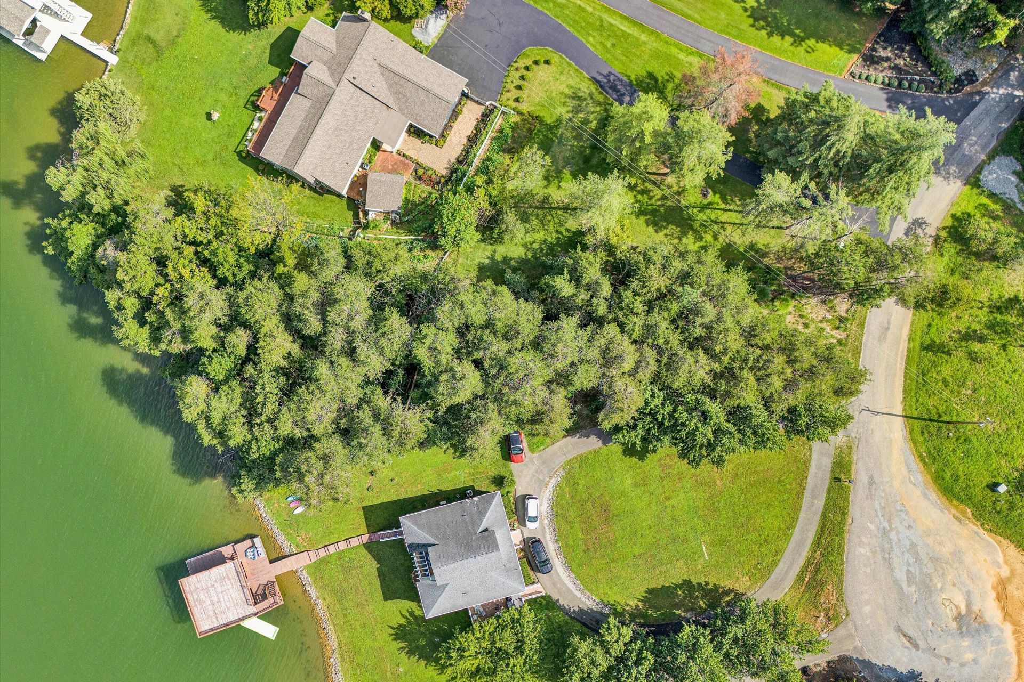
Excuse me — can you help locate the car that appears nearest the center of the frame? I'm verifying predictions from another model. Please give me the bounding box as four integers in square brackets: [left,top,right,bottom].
[508,431,525,463]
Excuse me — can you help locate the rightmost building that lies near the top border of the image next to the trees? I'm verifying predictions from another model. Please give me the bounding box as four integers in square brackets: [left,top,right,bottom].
[259,11,468,196]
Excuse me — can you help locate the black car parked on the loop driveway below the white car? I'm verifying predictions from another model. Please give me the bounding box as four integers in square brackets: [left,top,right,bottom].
[529,539,551,575]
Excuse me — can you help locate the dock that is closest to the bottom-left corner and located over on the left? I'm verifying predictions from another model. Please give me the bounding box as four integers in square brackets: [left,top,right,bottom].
[176,534,285,640]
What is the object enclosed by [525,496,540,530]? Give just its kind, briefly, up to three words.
car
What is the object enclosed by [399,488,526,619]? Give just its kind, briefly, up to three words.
house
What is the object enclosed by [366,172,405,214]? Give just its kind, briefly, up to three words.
shed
